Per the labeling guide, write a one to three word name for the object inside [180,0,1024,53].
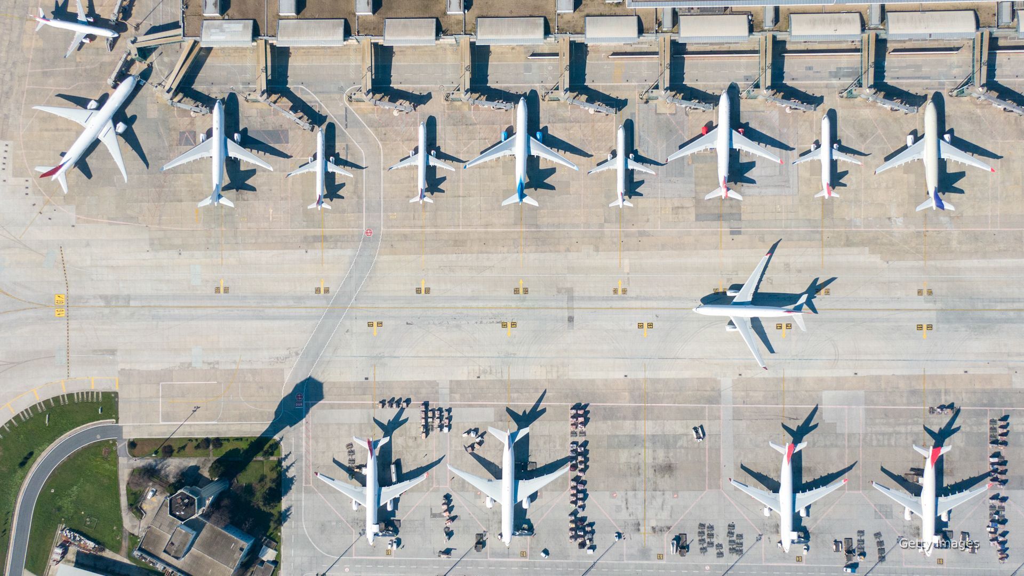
building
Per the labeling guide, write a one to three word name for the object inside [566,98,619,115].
jet bridge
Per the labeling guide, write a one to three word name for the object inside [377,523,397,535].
vehicle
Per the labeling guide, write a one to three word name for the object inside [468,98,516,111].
jet bridge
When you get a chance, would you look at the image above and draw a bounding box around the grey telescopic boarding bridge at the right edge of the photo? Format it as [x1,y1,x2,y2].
[975,94,1024,118]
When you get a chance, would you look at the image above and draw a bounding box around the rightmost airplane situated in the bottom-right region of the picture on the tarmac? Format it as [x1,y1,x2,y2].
[874,445,993,556]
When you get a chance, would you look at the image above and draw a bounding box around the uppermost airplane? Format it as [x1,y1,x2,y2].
[29,0,118,57]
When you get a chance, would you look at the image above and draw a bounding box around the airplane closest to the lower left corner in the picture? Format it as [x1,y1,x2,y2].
[315,437,426,545]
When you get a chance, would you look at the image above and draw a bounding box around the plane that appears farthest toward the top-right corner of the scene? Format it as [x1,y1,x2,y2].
[876,99,996,212]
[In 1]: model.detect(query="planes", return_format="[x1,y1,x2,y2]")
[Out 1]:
[30,76,136,193]
[667,90,783,200]
[388,122,454,204]
[464,97,578,206]
[588,125,655,208]
[315,437,426,545]
[448,428,569,546]
[692,256,817,370]
[286,127,352,210]
[793,115,862,199]
[730,442,848,553]
[876,99,996,212]
[29,0,118,57]
[874,445,993,556]
[160,100,269,207]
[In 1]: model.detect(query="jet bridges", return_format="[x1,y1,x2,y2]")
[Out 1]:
[266,100,316,132]
[865,96,920,114]
[765,96,817,112]
[468,98,516,111]
[664,97,715,112]
[110,0,127,26]
[566,98,619,115]
[975,94,1024,118]
[167,101,212,117]
[106,46,132,87]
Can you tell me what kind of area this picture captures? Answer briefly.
airport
